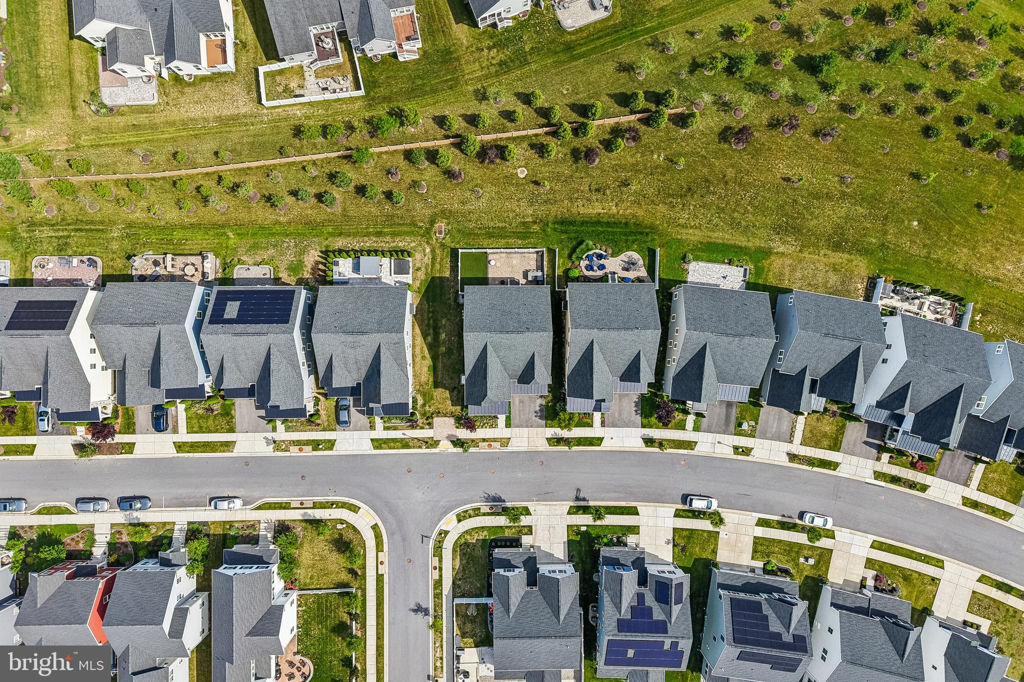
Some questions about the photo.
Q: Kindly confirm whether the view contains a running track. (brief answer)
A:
No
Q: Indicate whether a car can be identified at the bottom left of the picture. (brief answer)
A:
Yes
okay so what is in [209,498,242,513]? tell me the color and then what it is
white car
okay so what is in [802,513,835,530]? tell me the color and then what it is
white car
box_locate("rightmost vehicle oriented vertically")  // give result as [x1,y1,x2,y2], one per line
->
[335,398,350,429]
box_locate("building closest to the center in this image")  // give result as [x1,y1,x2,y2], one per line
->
[460,286,553,416]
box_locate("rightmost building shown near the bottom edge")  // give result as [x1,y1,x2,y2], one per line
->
[922,618,1011,682]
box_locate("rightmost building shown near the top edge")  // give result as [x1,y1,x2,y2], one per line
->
[470,0,531,31]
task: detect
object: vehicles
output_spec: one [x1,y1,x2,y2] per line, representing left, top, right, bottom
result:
[688,496,720,512]
[335,398,350,429]
[209,498,242,513]
[802,513,835,530]
[0,499,24,515]
[149,404,166,433]
[116,498,148,513]
[34,403,53,434]
[74,499,107,515]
